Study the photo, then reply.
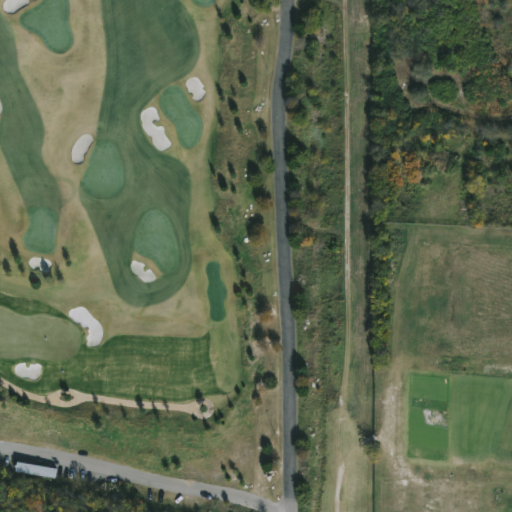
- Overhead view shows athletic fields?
Yes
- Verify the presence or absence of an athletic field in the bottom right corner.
Yes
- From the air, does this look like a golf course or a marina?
golf course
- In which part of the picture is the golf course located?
left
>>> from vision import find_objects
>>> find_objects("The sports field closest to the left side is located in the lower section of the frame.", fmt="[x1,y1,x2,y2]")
[401,367,464,470]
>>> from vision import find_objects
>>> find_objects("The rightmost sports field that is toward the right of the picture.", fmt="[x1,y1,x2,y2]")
[450,364,512,471]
